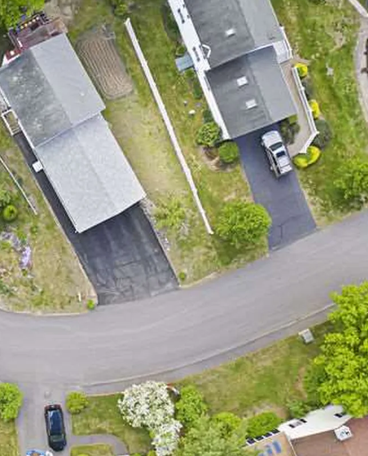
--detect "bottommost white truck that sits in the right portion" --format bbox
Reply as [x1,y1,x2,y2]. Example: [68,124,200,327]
[258,126,297,181]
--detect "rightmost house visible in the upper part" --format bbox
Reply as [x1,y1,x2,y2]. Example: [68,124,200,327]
[164,0,300,140]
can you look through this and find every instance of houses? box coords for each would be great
[164,0,300,140]
[236,405,368,456]
[0,16,147,233]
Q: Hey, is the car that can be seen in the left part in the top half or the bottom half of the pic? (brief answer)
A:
bottom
